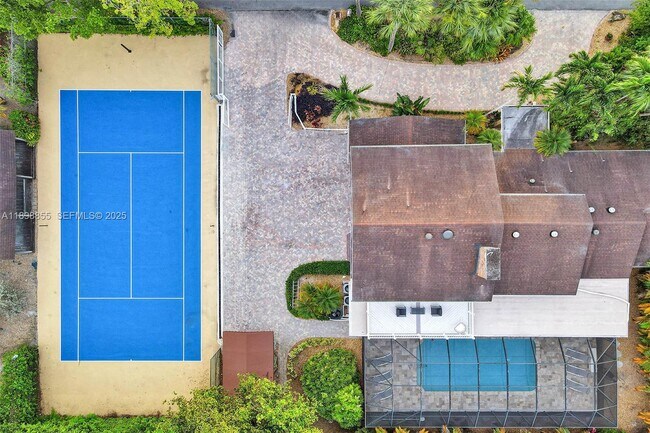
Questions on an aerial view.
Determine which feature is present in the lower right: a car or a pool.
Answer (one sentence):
Looking in the lower right, you will find a pool.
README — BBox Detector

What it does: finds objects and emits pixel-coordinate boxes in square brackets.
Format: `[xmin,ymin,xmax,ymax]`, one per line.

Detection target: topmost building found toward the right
[348,105,650,340]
